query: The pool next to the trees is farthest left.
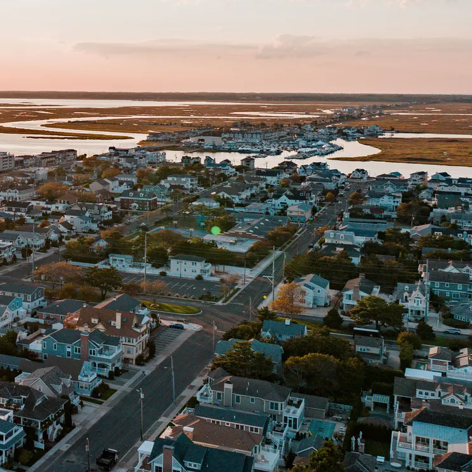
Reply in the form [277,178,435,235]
[304,415,351,443]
